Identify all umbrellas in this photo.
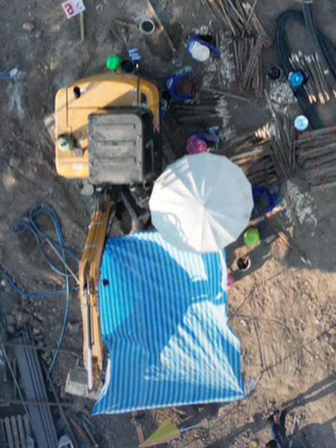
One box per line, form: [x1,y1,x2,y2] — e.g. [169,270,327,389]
[150,152,254,254]
[139,419,206,448]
